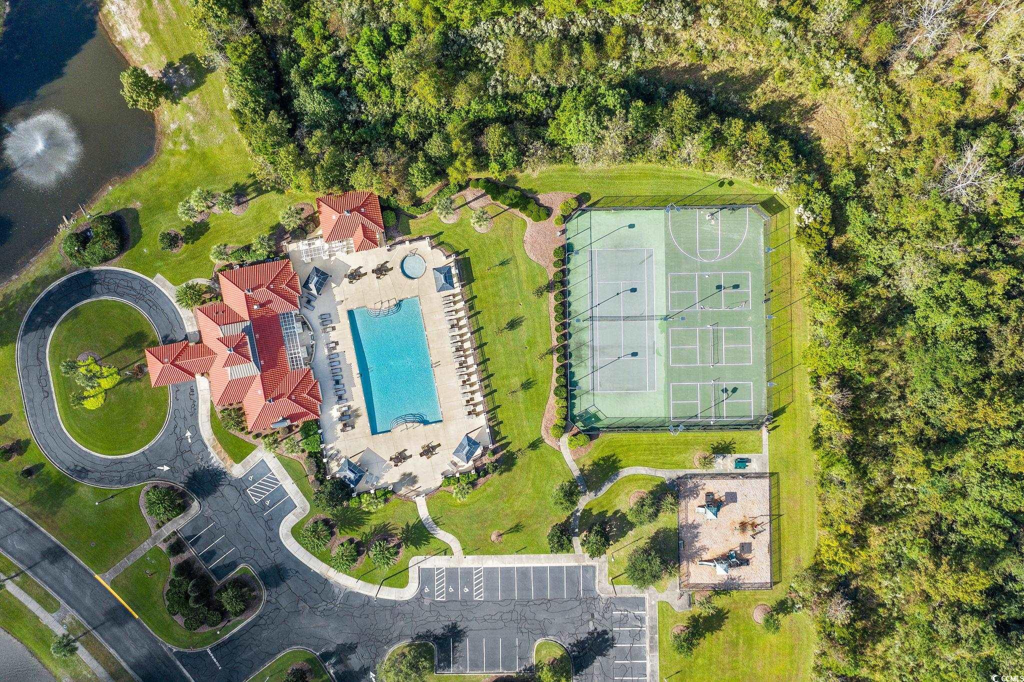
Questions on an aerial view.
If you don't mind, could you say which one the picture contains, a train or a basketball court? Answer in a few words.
basketball court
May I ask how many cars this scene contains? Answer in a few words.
0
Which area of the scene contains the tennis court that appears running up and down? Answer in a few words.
center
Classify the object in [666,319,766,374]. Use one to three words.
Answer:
sports court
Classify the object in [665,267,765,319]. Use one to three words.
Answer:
sports court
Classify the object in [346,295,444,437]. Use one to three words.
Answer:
swimming pool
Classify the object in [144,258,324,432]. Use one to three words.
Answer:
building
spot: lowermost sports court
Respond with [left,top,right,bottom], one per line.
[666,374,766,430]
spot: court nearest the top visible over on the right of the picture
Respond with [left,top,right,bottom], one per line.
[665,208,765,267]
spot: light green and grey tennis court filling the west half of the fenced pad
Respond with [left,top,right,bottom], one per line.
[567,208,666,430]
